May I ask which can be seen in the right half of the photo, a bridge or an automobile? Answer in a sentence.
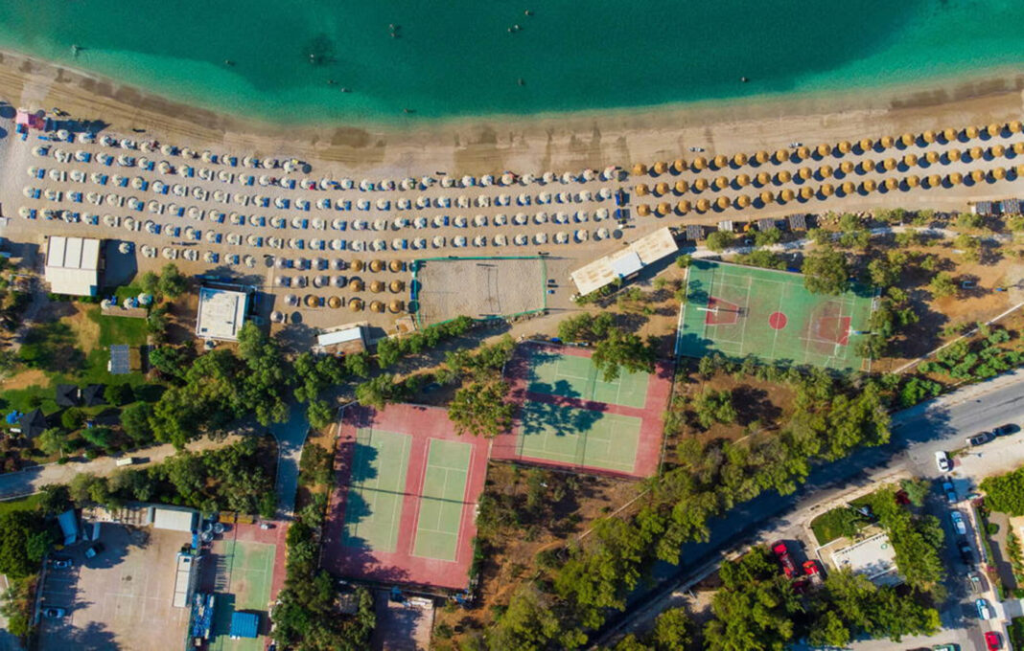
What appears in the right half of the photo is an automobile.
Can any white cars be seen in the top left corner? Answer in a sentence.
No, no white car appears in the top left corner.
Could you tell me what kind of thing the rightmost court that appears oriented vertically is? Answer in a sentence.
The rightmost court that appears oriented vertically is a tennis court.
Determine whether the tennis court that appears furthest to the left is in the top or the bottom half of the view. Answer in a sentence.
Seen from above, the tennis court that appears furthest to the left lies in the bottom half of the view.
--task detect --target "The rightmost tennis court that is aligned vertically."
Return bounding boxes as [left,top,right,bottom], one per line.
[400,406,491,590]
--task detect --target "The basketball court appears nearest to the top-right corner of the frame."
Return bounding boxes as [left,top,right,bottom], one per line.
[677,259,874,376]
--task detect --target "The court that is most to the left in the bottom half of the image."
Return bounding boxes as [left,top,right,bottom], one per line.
[190,521,287,651]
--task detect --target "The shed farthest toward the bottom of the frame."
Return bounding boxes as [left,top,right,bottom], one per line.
[230,608,263,639]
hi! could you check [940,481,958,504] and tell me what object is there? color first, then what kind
blue car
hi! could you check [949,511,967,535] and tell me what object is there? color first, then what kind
blue car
